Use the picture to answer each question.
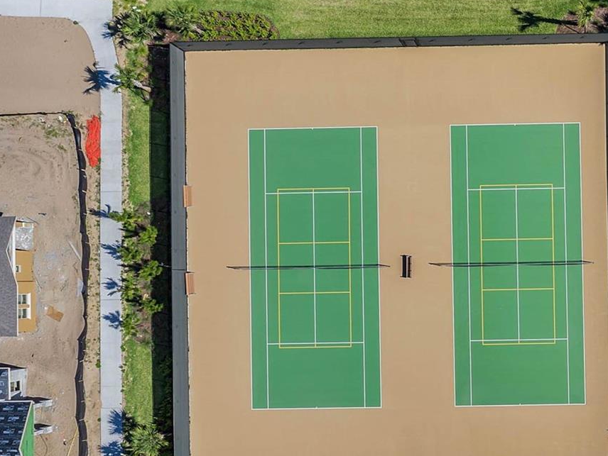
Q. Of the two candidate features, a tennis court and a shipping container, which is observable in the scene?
tennis court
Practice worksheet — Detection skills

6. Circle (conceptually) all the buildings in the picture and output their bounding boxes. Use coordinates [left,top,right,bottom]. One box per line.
[0,216,36,336]
[0,367,38,456]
